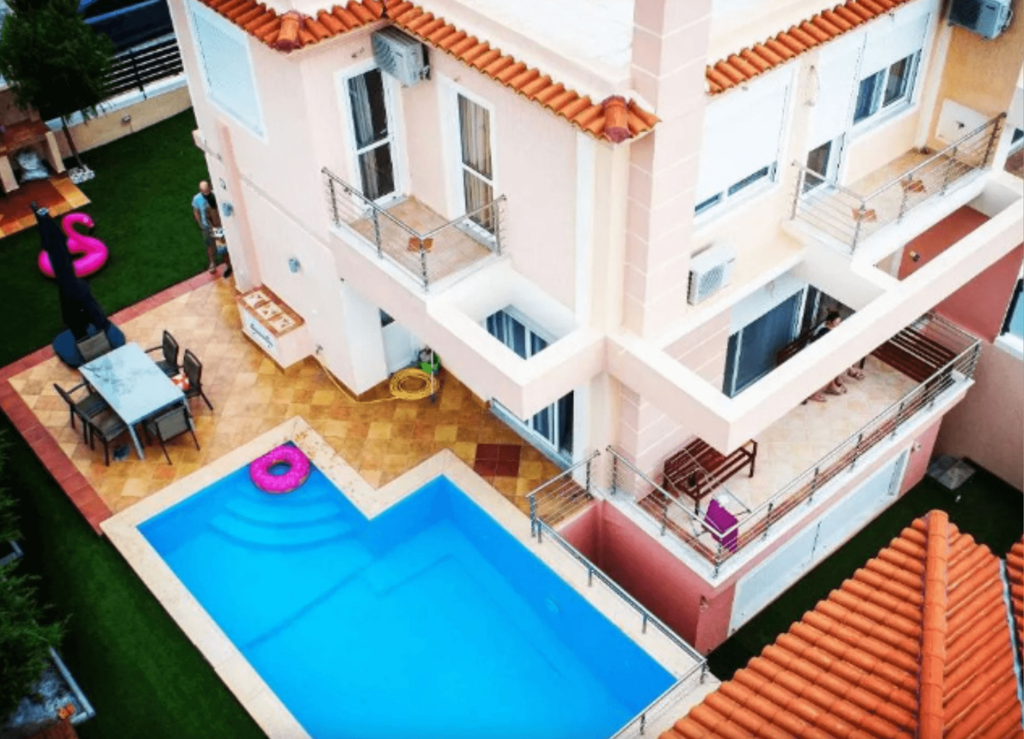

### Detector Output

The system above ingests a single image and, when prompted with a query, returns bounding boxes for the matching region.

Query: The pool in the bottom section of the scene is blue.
[100,415,723,739]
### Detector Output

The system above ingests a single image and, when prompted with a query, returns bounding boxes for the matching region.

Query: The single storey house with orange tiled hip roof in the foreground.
[650,496,1024,739]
